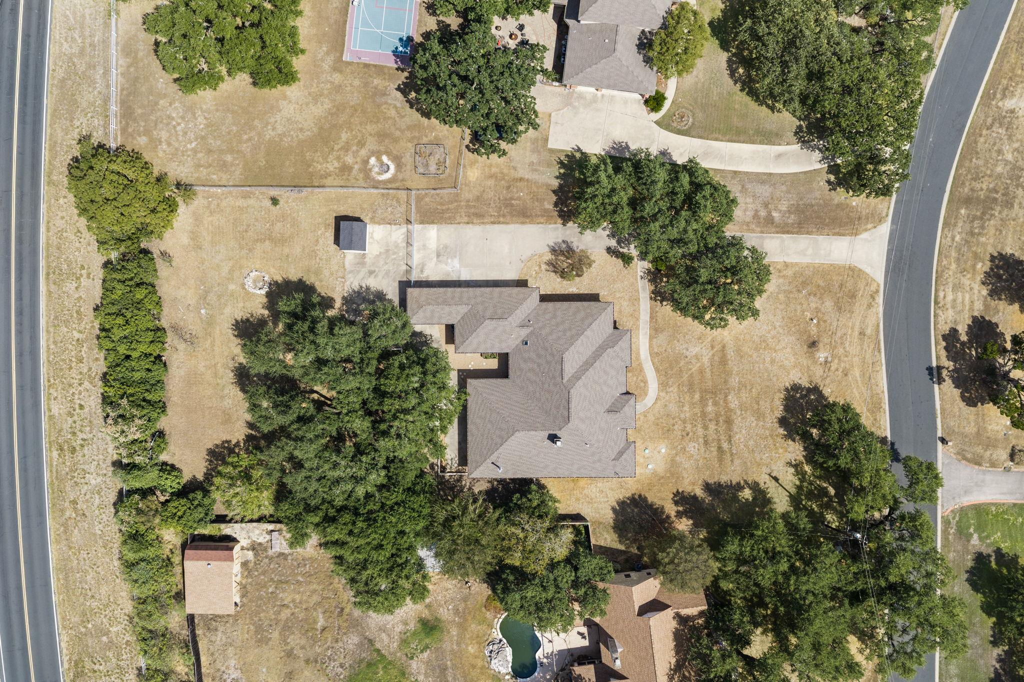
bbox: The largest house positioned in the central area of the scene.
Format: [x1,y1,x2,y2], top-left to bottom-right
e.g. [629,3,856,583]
[406,287,636,478]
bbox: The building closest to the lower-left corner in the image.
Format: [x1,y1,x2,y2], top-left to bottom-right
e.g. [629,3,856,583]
[181,541,240,614]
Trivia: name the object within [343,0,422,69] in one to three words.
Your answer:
sports court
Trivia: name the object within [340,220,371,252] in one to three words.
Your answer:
shed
